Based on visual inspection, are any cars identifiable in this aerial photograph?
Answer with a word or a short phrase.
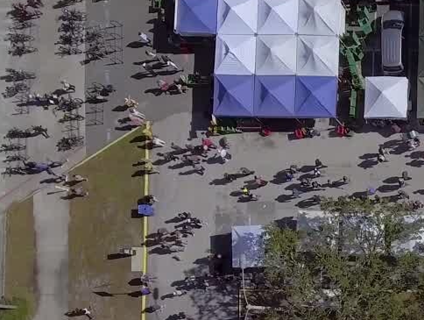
Yes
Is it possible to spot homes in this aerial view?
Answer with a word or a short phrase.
No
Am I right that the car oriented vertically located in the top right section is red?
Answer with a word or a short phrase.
No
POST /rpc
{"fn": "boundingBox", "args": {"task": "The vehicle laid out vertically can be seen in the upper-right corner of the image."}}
[379,12,409,76]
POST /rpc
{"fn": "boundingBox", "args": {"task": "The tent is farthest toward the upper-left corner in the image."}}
[179,0,218,45]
